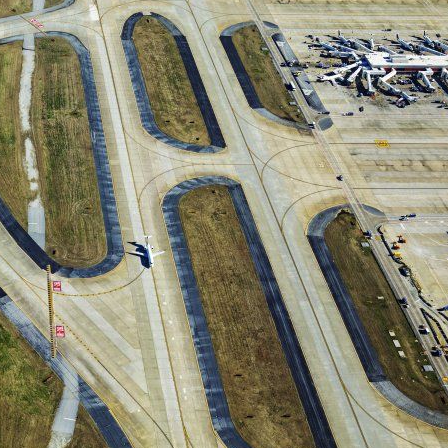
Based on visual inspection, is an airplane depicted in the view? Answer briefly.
Yes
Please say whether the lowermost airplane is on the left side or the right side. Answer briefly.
left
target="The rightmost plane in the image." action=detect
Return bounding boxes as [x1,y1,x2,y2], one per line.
[414,29,435,47]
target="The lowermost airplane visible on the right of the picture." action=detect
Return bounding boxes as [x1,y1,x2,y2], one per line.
[317,69,346,81]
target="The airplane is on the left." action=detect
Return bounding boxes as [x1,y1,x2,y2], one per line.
[130,233,166,266]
